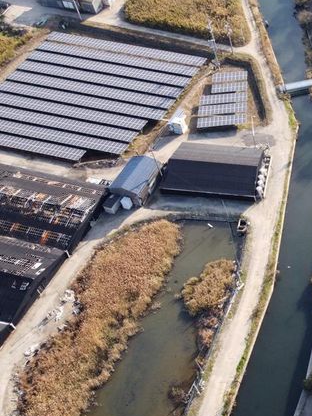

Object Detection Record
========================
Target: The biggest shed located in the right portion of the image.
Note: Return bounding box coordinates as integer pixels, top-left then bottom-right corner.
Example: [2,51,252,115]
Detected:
[160,142,264,205]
